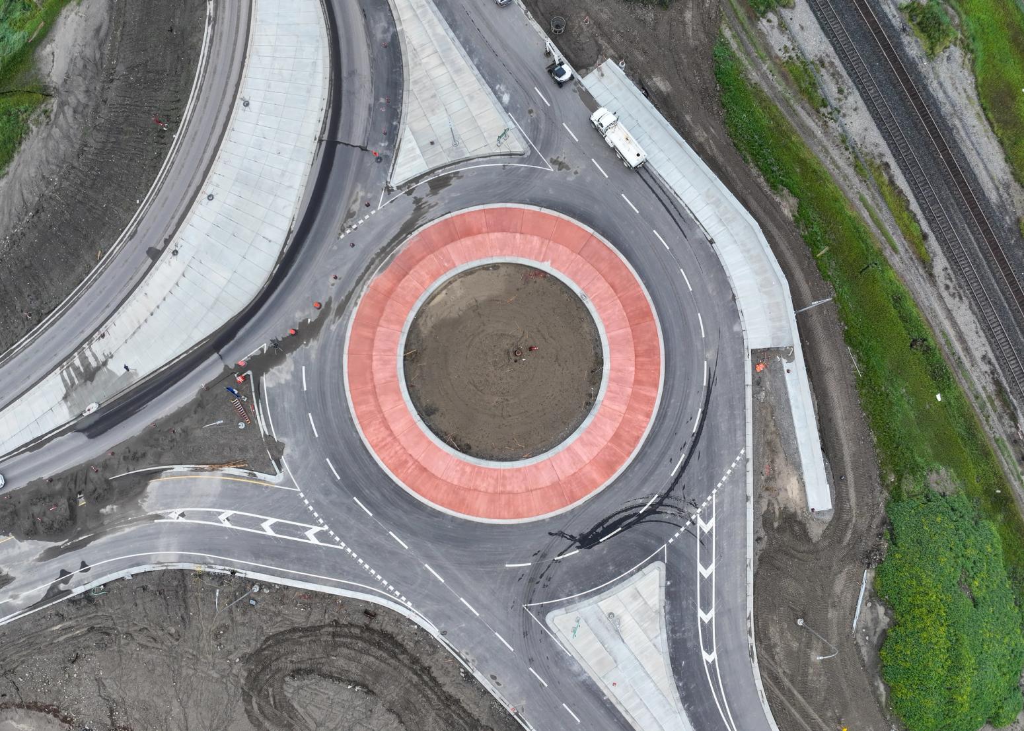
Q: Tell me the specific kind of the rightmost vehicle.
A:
truck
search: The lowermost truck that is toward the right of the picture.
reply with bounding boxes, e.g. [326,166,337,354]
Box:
[589,110,646,173]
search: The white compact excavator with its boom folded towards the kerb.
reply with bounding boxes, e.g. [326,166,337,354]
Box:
[546,36,575,89]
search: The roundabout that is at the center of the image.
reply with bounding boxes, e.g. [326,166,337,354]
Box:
[284,87,746,723]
